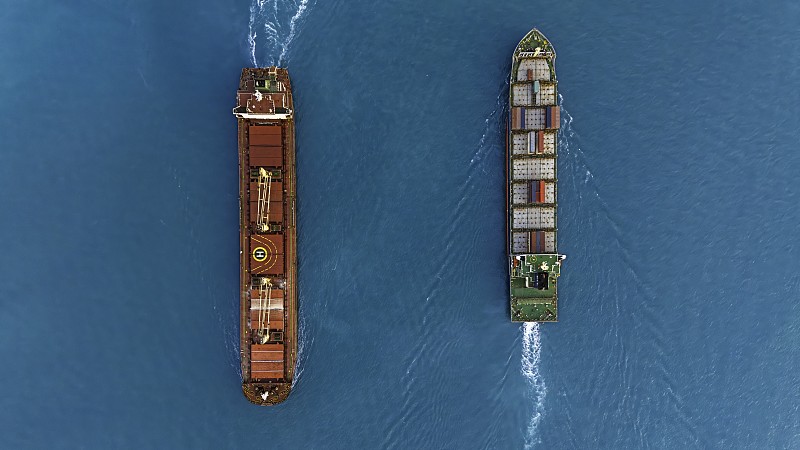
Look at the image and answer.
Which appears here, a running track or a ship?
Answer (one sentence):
Of the two, only a ship appears.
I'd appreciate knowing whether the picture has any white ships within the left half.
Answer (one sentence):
No, no white ship can be made out within the left half.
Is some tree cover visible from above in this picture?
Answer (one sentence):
No, there's no tree cover in this view.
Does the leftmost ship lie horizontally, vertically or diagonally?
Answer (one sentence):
In this picture, the leftmost ship lies vertically.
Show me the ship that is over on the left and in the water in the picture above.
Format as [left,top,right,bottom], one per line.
[231,66,297,408]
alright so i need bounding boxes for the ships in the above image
[506,27,566,323]
[231,66,297,408]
